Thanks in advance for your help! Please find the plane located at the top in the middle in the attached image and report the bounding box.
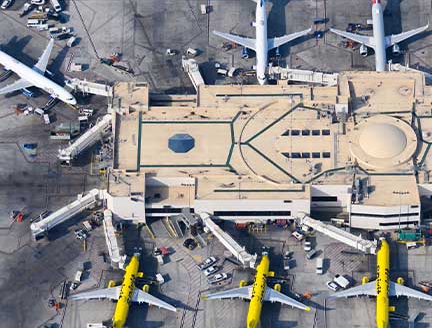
[212,0,312,84]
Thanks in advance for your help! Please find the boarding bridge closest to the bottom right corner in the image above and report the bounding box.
[299,212,384,258]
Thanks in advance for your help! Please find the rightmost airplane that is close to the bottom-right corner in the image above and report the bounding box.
[326,239,432,328]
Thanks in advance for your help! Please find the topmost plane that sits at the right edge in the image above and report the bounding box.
[327,0,430,71]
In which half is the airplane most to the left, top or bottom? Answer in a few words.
top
